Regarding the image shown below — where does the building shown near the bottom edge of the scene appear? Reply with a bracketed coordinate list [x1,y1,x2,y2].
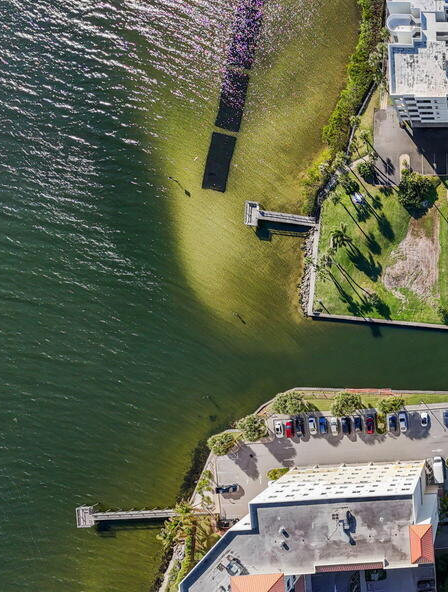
[179,459,445,592]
